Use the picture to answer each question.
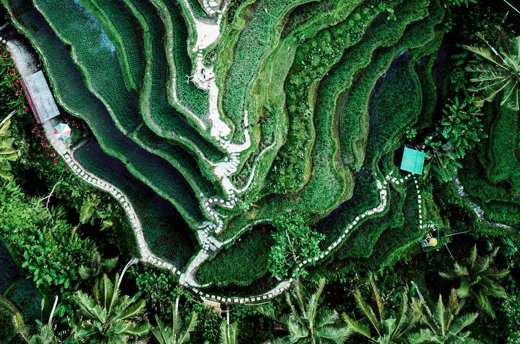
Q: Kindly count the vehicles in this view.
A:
0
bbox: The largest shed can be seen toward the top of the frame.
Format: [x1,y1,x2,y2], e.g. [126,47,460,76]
[19,67,61,124]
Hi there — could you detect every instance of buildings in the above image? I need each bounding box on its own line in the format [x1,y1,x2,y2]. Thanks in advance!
[19,67,61,124]
[397,145,426,176]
